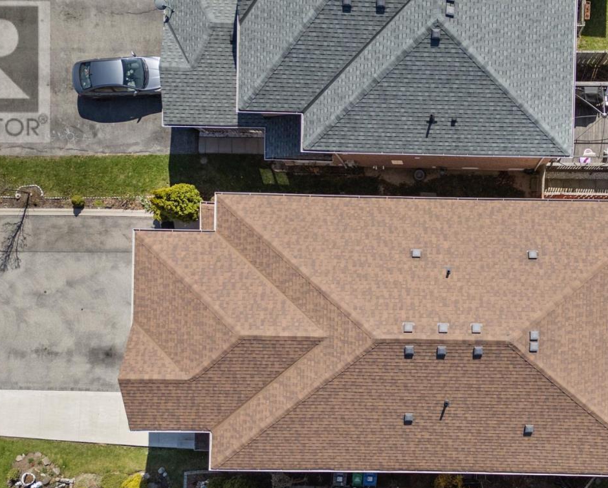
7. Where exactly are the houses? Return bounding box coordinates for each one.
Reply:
[160,0,574,171]
[118,193,608,477]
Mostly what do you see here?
buildings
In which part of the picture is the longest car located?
top left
